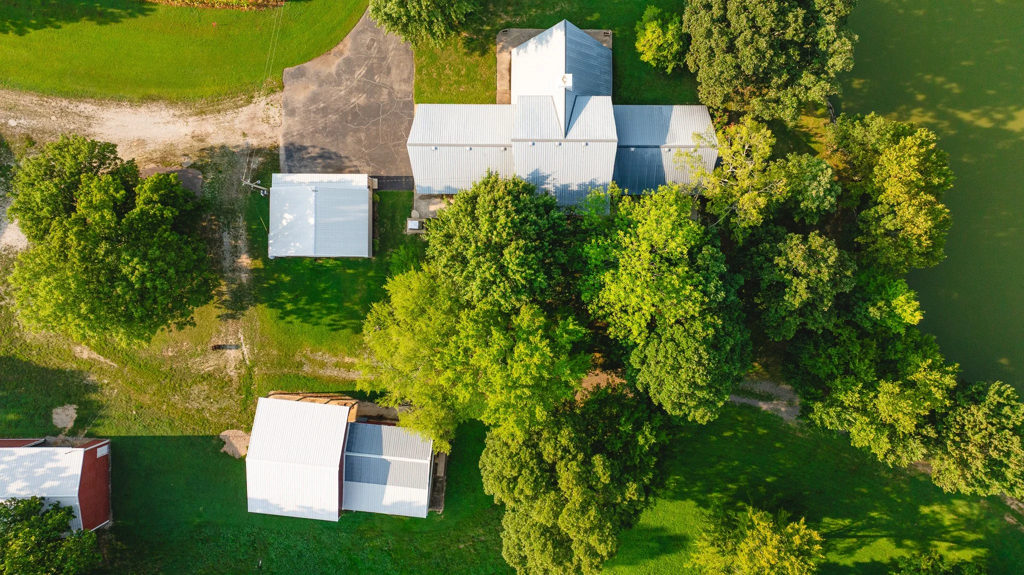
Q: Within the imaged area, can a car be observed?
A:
No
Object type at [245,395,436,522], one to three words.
barn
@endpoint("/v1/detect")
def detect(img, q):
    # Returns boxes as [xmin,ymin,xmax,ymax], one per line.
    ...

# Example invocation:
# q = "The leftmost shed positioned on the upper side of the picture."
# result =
[269,173,374,257]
